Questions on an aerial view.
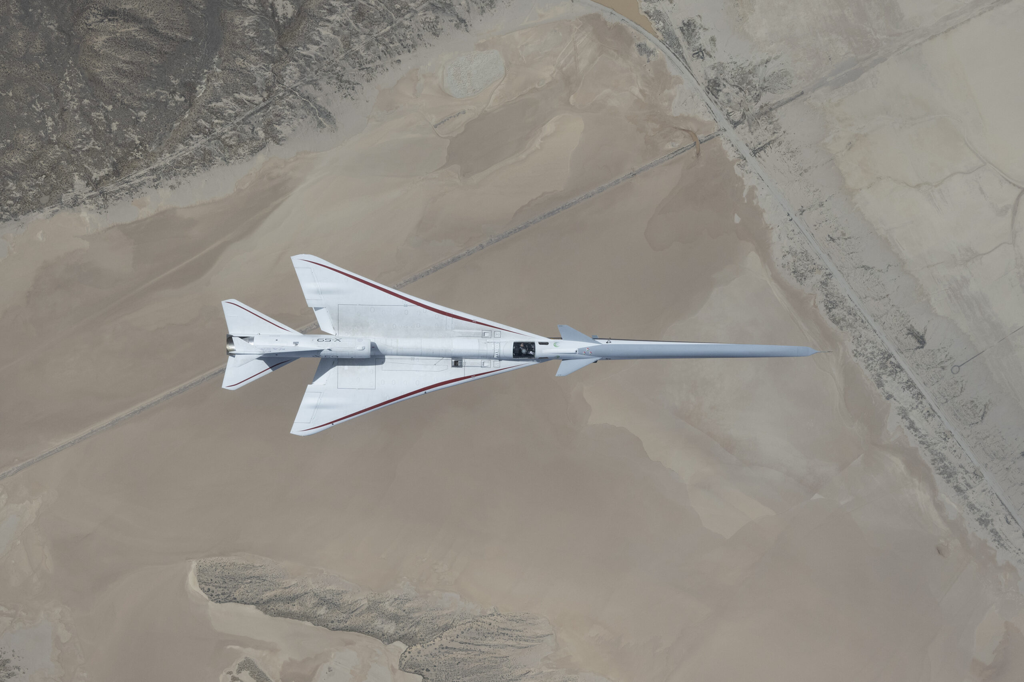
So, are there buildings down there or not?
No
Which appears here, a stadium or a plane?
plane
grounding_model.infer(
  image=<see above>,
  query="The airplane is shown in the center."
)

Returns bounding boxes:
[222,254,833,436]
